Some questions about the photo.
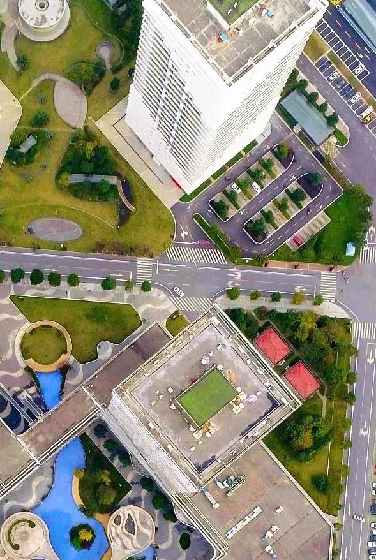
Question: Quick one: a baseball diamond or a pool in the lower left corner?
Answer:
pool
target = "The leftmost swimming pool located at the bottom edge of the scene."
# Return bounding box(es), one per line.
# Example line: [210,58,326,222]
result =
[30,440,110,560]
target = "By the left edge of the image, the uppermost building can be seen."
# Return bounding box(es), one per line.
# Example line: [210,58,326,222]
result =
[13,0,71,44]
